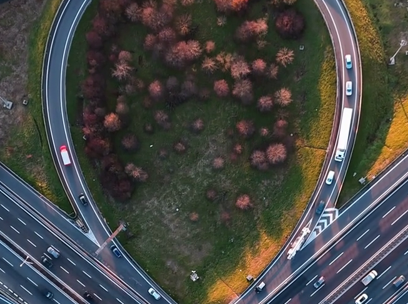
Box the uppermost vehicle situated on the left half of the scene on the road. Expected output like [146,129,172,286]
[57,147,70,167]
